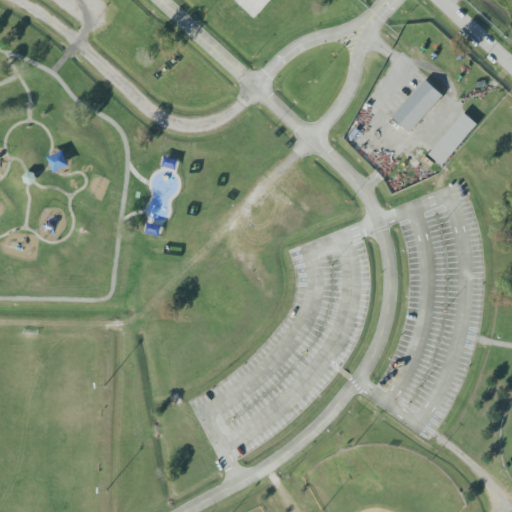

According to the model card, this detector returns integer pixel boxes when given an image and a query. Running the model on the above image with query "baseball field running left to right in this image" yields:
[306,448,466,512]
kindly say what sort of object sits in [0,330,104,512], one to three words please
soccer field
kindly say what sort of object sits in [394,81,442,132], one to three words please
building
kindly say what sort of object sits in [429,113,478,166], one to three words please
shed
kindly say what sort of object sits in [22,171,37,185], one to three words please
gazebo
